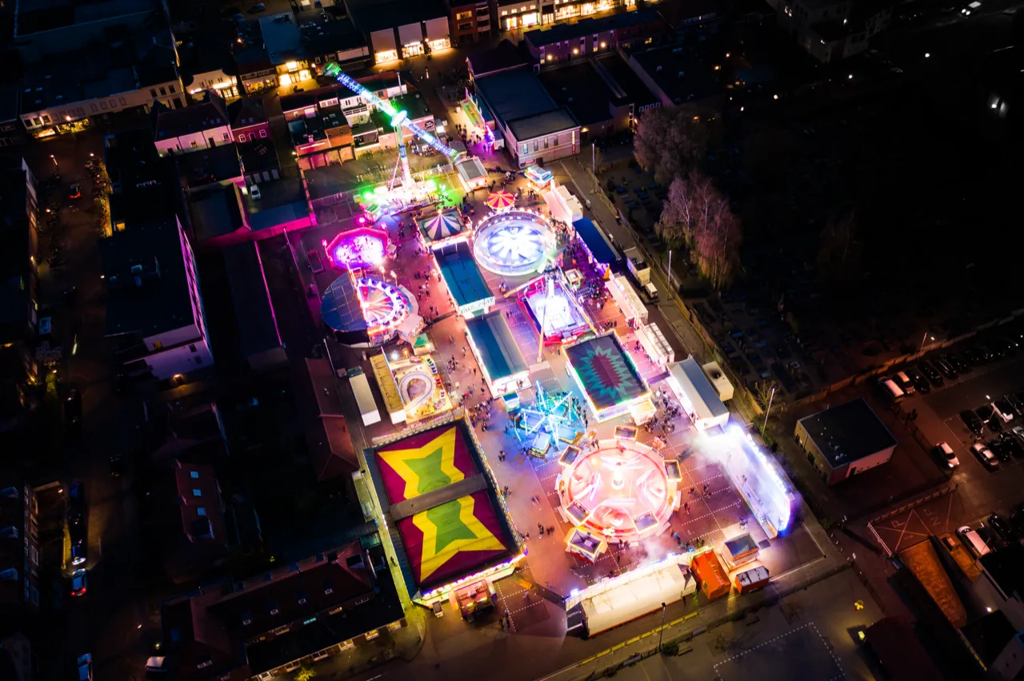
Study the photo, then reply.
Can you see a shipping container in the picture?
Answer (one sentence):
Yes, there's a shipping container here.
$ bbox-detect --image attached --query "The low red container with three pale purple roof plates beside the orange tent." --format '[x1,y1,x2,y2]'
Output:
[735,566,769,592]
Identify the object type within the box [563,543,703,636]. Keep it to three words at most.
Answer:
tent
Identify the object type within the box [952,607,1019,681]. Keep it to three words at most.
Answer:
house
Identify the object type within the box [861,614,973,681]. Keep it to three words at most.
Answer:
shed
